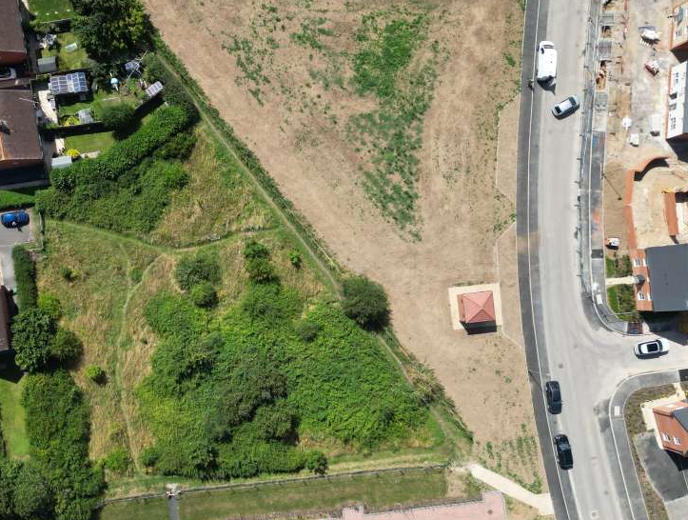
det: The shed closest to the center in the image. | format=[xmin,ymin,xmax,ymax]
[459,290,498,324]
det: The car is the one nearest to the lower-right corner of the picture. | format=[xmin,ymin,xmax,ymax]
[552,433,573,469]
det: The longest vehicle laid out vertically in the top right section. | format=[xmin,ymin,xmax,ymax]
[534,42,556,87]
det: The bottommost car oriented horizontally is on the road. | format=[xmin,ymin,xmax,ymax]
[632,338,668,357]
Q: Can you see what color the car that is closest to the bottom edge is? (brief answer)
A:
black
